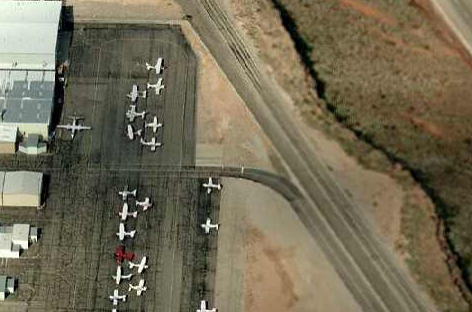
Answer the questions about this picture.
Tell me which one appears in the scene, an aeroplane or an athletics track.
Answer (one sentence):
Looking from above, you can make out an aeroplane.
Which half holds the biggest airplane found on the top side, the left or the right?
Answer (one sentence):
The biggest airplane found on the top side sits on the left side.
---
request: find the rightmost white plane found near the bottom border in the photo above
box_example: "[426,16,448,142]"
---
[196,300,217,312]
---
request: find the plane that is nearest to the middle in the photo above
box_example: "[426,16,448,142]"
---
[203,178,223,193]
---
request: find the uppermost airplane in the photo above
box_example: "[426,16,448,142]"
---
[146,56,164,72]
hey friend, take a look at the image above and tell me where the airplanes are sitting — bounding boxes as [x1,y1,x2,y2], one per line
[196,300,217,312]
[116,221,136,238]
[132,197,153,212]
[203,178,223,193]
[58,111,91,133]
[126,280,147,296]
[118,186,138,201]
[115,245,134,262]
[140,137,160,152]
[201,219,221,234]
[124,123,145,139]
[146,79,165,93]
[129,84,148,100]
[126,107,145,122]
[112,266,132,283]
[109,290,130,306]
[128,254,148,272]
[119,201,140,218]
[146,56,164,72]
[142,118,162,132]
